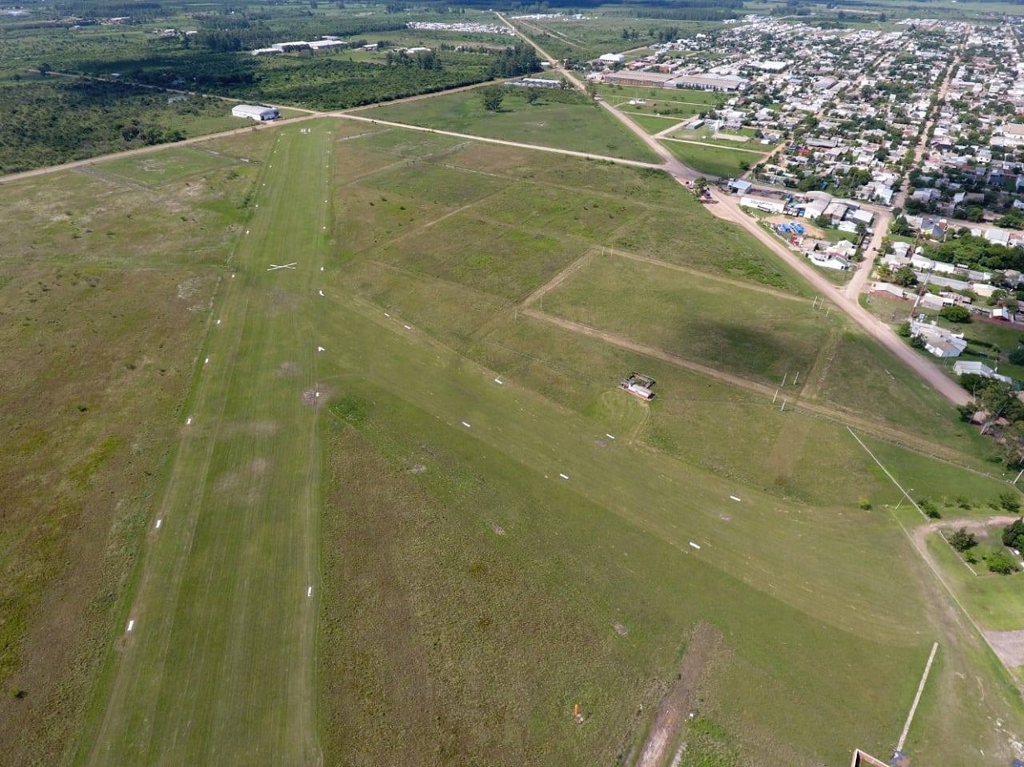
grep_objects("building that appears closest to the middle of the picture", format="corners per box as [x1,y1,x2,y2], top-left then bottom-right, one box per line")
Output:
[620,371,660,400]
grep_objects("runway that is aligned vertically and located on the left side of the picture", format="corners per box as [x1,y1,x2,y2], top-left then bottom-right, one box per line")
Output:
[65,116,334,767]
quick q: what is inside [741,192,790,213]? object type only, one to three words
building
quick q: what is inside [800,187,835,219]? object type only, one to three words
barn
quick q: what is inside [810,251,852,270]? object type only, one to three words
house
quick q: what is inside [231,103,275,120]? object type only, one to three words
hangar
